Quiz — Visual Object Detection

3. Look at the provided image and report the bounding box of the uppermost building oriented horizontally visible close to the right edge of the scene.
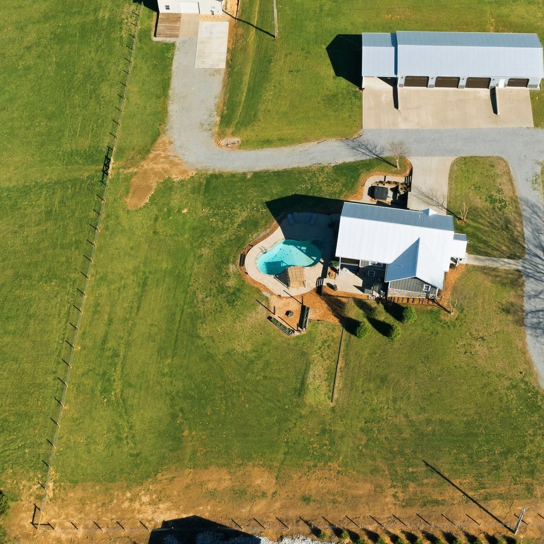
[360,31,544,90]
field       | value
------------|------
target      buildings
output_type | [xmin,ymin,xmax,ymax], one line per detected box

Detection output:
[360,31,544,90]
[336,203,467,305]
[158,0,224,16]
